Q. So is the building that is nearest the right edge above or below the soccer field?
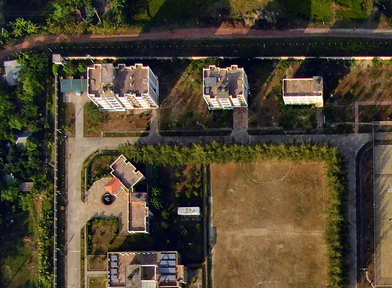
above it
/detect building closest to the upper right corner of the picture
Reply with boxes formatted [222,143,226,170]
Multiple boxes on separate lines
[282,77,324,104]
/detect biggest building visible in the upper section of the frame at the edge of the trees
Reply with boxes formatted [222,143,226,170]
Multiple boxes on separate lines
[88,62,158,109]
